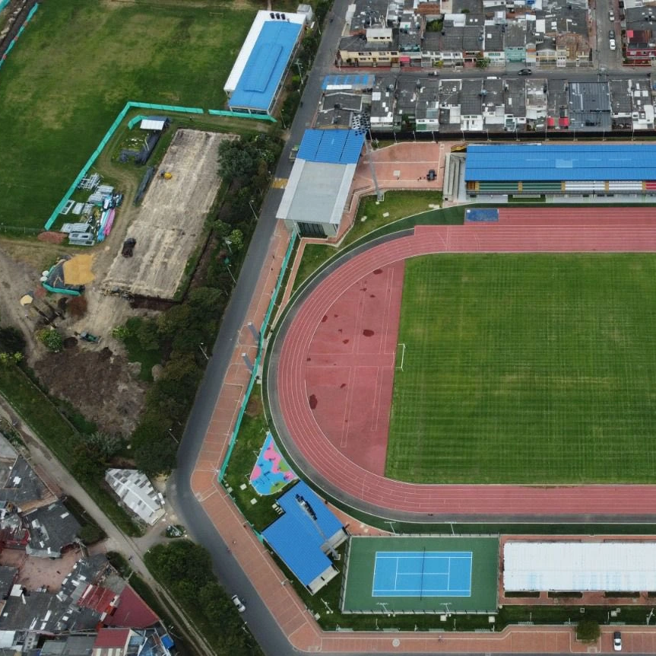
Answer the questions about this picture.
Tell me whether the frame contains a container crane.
No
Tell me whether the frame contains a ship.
No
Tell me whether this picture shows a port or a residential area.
residential area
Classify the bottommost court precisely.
tennis court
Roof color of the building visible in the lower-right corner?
white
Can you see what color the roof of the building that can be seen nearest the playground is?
blue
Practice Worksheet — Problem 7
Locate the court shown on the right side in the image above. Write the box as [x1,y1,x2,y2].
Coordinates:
[343,537,498,611]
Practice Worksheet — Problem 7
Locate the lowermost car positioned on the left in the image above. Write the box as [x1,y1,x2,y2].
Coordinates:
[232,594,245,613]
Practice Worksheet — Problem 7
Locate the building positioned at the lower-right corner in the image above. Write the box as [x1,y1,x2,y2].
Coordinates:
[504,541,656,592]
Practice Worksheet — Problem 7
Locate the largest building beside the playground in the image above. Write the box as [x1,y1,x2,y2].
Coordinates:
[263,479,353,598]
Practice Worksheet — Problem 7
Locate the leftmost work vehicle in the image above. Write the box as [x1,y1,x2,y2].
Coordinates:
[71,327,101,341]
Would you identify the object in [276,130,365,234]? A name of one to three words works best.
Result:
building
